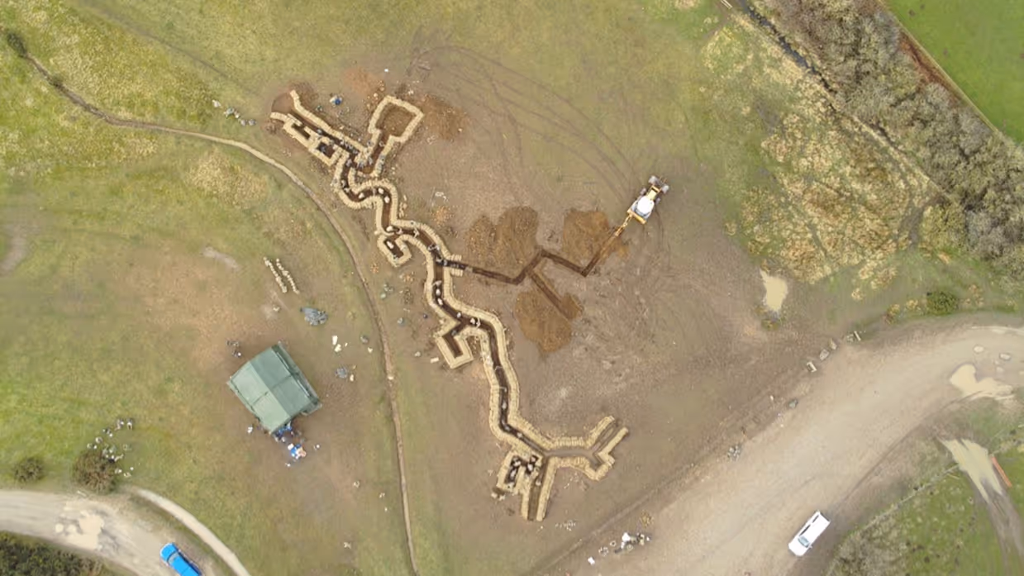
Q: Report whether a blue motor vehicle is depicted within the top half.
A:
No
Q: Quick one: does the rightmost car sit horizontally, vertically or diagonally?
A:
diagonally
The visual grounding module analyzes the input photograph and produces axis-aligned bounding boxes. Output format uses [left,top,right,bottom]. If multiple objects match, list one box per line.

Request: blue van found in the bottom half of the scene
[160,539,206,576]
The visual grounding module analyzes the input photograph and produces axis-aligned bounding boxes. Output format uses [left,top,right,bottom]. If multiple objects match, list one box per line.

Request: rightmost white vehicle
[786,508,830,554]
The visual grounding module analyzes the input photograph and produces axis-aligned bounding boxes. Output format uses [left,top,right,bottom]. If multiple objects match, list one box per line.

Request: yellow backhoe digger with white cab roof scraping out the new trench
[610,174,671,243]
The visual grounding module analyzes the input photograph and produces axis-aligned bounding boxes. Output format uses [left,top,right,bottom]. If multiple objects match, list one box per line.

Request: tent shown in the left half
[227,336,327,434]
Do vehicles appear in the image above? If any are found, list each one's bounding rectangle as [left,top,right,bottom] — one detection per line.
[160,539,206,576]
[786,508,830,554]
[610,174,671,243]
